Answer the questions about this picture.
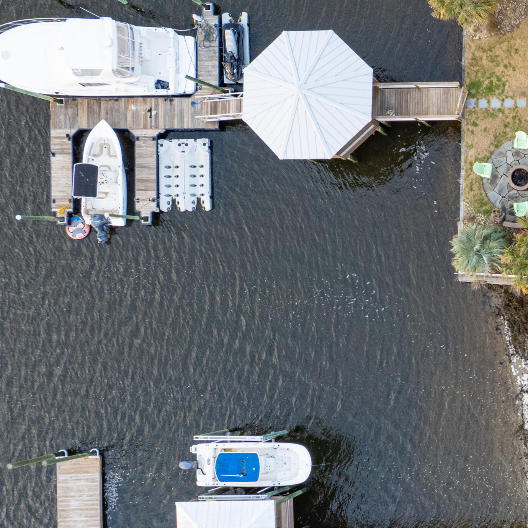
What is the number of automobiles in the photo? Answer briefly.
0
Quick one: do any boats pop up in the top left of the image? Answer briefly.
Yes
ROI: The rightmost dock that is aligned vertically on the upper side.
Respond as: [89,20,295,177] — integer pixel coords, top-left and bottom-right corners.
[222,11,251,85]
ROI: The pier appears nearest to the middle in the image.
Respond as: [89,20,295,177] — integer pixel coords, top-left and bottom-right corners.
[158,139,214,212]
